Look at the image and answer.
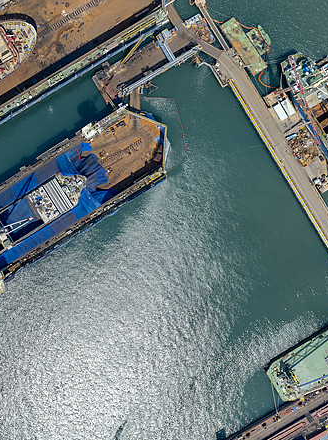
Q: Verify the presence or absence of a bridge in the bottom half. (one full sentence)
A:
No, in the bottom half there is no bridge.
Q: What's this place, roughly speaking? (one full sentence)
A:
The picture captures a port.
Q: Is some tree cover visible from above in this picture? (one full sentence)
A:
No, no tree cover is visible.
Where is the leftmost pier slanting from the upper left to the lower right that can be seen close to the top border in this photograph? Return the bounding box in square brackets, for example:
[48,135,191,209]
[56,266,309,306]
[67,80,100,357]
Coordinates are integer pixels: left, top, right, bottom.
[193,0,233,57]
